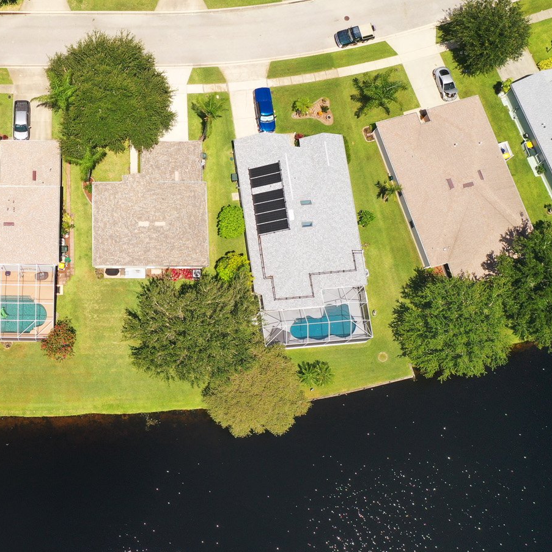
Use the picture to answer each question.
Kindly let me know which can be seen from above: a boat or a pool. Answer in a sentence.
This aerial view contains a pool.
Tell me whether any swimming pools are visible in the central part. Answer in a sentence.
Yes, a swimming pool can be seen in the central part.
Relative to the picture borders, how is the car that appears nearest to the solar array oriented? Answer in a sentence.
What the image shows is the car that appears nearest to the solar array lying from top to bottom.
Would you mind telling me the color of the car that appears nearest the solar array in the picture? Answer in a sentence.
In this view, the car that appears nearest the solar array is blue.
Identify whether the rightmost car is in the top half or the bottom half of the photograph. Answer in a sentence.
You can find the rightmost car in the top half.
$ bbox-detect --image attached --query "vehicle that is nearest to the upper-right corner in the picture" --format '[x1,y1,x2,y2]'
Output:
[436,62,461,99]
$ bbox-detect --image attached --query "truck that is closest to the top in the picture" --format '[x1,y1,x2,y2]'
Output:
[335,18,379,44]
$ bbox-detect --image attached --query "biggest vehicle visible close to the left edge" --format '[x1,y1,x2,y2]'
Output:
[11,97,30,140]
